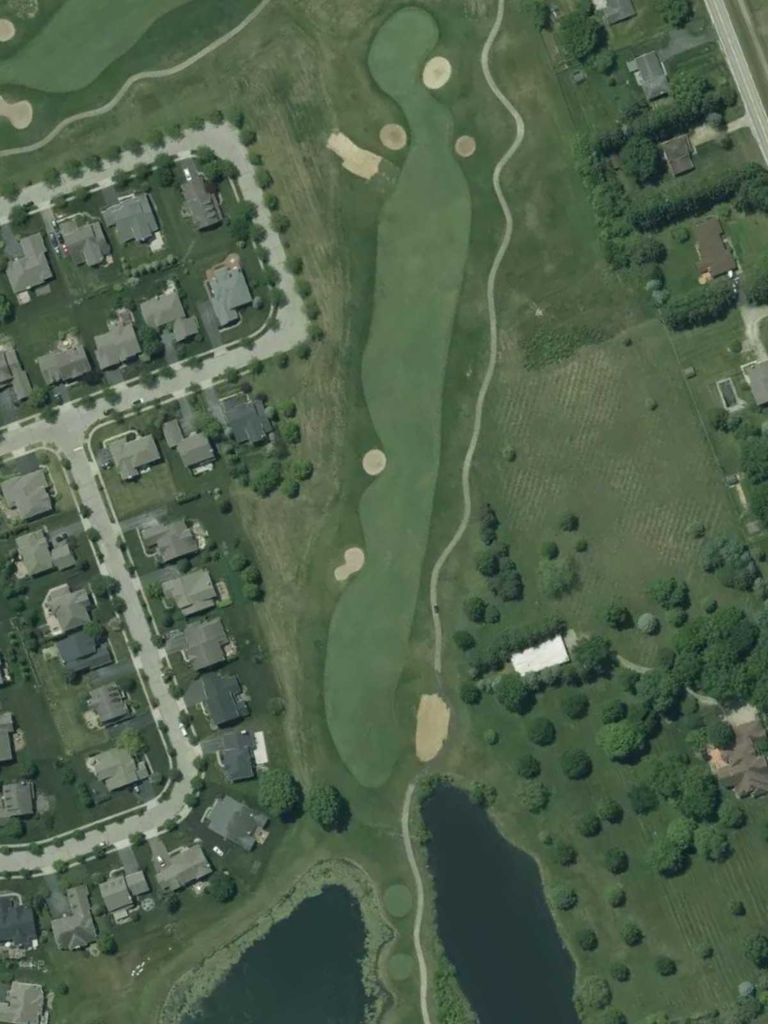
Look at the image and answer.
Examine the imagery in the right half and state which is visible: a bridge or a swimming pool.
swimming pool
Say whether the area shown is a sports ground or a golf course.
golf course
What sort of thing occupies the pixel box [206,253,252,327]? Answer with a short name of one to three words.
house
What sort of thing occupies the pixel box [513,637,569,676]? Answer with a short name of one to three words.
barn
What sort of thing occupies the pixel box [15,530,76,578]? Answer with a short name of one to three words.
house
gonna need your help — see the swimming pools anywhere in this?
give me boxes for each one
[717,377,747,413]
